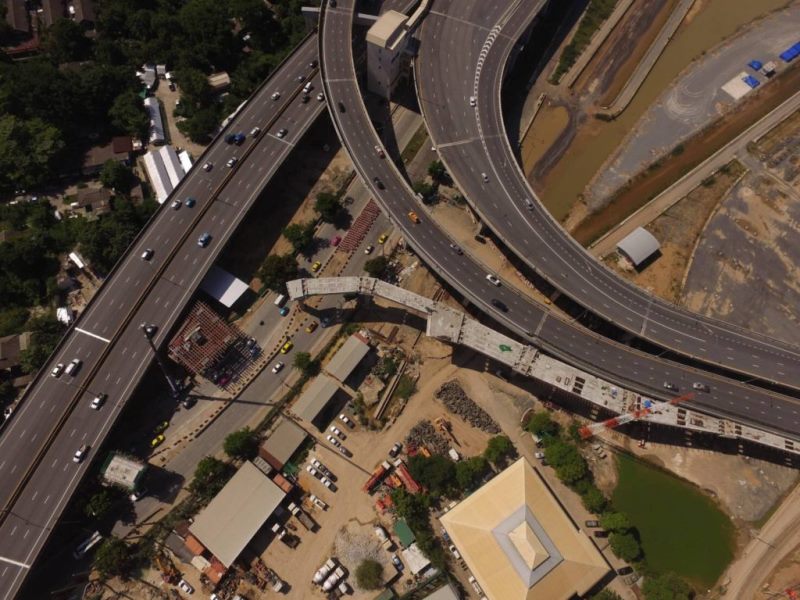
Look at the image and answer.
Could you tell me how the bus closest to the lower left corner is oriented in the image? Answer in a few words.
diagonally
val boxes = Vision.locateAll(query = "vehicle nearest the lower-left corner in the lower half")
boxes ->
[62,524,106,565]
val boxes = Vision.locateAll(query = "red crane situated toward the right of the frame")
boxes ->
[550,391,696,441]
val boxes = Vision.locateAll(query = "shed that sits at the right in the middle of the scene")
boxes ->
[612,227,660,271]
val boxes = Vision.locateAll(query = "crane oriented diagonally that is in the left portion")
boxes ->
[140,325,198,412]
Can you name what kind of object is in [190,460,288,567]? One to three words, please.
building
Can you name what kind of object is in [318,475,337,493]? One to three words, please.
vehicle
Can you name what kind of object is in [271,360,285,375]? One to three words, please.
car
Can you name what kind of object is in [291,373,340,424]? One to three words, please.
shed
